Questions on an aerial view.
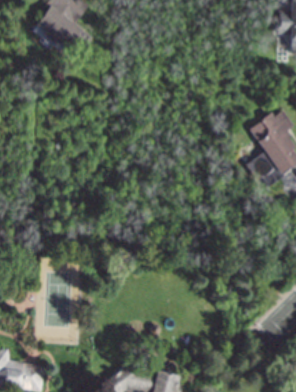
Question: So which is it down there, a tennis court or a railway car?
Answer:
tennis court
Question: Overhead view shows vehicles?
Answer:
No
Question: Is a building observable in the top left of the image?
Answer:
Yes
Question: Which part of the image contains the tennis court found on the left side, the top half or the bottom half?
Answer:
bottom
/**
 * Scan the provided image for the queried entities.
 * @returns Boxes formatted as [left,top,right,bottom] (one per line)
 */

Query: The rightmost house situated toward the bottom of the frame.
[152,370,182,392]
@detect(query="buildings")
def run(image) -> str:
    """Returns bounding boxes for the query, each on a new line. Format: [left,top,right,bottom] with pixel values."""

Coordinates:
[250,110,296,182]
[114,371,152,392]
[36,0,96,55]
[273,0,296,50]
[152,370,182,392]
[0,344,44,392]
